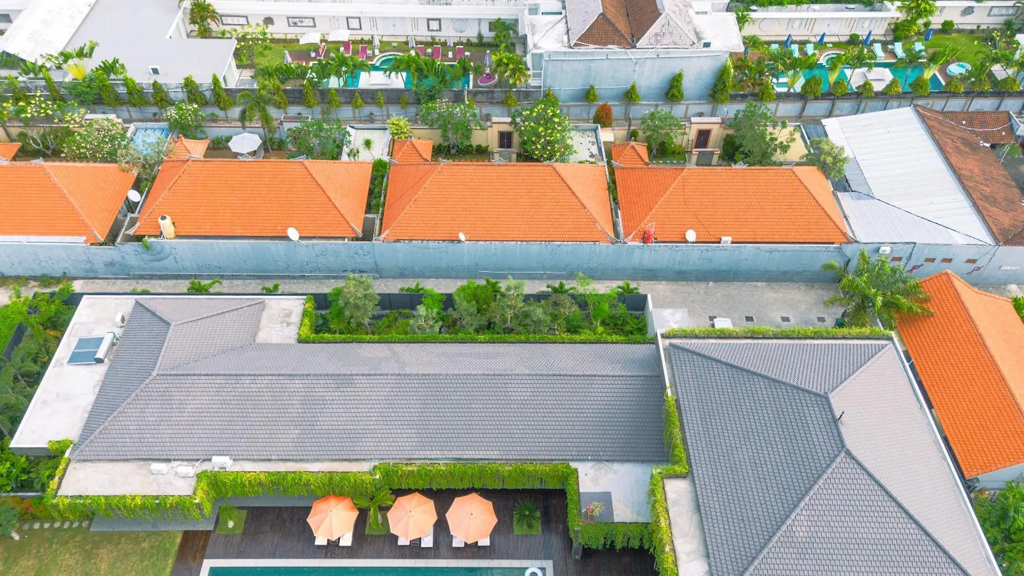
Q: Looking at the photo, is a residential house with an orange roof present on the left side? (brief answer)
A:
Yes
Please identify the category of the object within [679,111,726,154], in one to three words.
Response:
building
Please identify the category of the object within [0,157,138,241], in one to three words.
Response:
house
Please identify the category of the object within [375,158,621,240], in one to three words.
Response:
house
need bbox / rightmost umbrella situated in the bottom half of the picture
[445,492,498,542]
